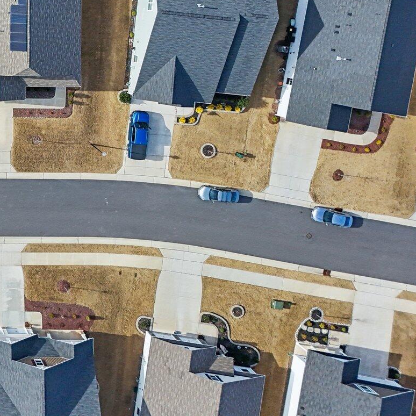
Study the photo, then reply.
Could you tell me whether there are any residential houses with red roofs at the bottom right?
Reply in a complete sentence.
No, at the bottom right there is no residential house with a red roof.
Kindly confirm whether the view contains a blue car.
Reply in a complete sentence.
Yes, a blue car can be made out from above.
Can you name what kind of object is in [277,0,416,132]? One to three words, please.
house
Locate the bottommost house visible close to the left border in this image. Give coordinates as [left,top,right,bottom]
[0,325,101,416]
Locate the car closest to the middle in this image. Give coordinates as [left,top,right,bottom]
[197,184,240,204]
